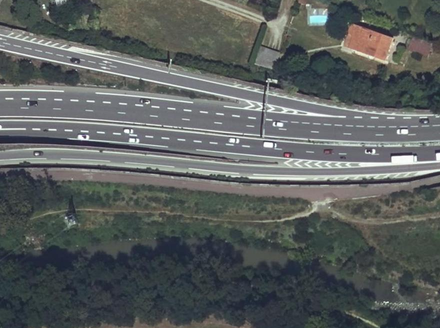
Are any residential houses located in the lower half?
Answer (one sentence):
No, no residential house appears in the lower half.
